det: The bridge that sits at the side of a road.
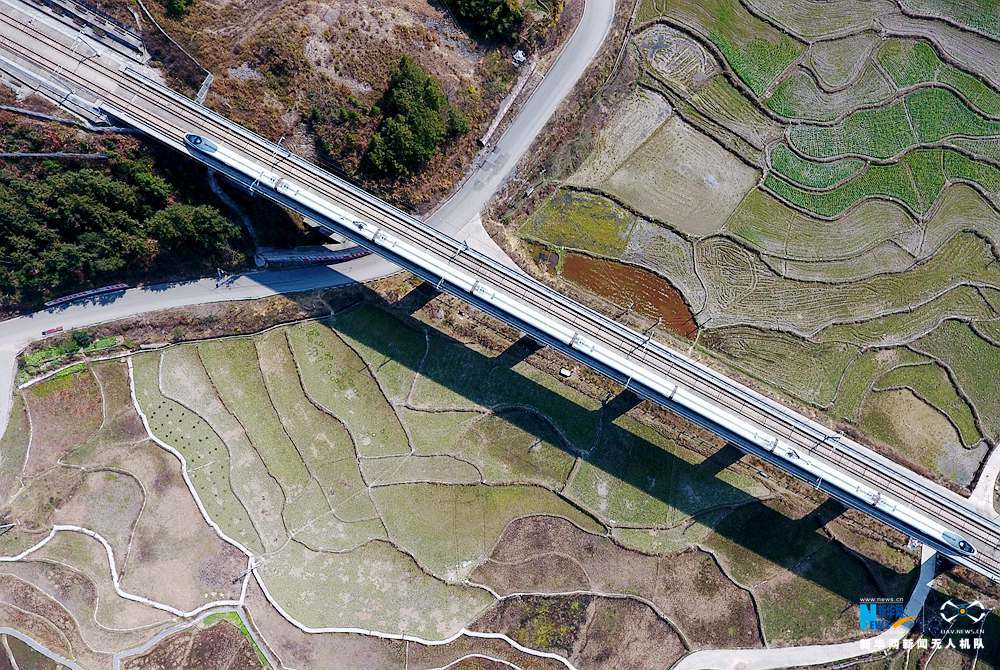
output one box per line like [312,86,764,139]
[94,60,1000,586]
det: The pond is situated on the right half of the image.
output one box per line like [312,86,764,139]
[558,248,698,336]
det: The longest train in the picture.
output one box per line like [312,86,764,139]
[184,134,973,554]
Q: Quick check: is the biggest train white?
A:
Yes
